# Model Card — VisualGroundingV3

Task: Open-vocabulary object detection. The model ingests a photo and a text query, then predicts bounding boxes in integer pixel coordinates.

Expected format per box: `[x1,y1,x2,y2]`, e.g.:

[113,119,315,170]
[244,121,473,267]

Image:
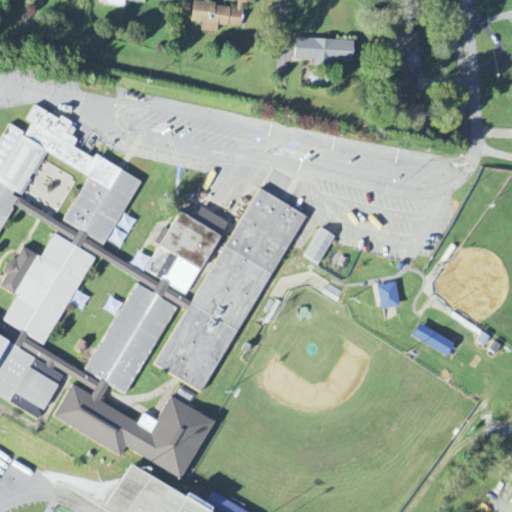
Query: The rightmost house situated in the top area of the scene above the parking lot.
[294,38,354,66]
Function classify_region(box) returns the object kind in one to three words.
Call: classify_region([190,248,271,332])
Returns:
building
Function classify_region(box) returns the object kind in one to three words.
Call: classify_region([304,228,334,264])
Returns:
shed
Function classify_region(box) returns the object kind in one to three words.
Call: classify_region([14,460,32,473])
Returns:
vehicle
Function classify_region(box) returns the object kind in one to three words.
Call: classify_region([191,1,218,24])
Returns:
house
